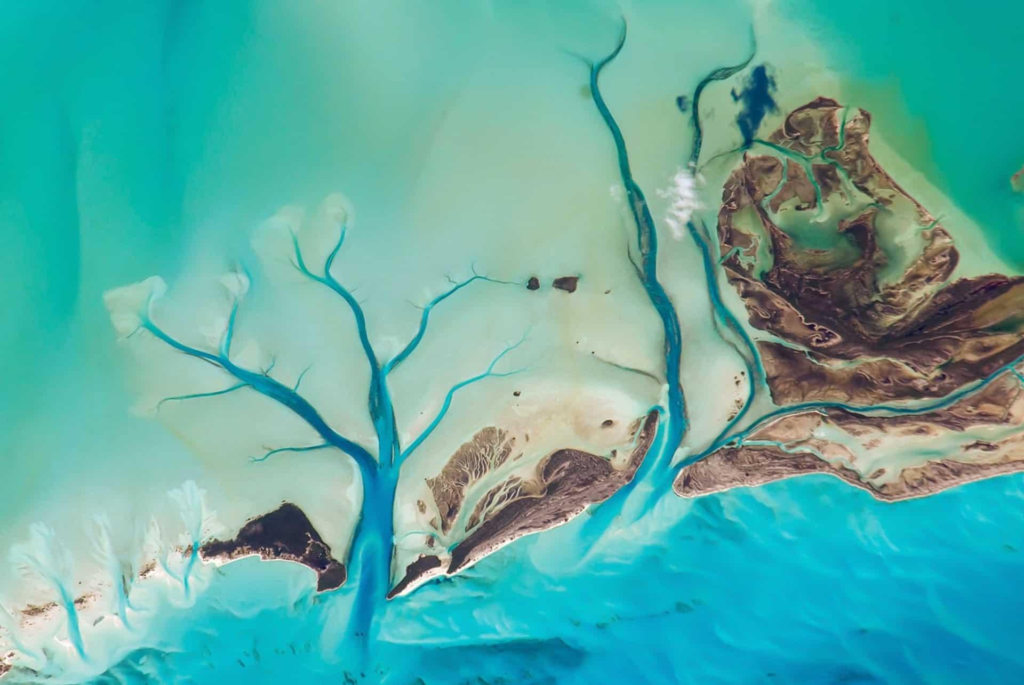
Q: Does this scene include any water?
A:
Yes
